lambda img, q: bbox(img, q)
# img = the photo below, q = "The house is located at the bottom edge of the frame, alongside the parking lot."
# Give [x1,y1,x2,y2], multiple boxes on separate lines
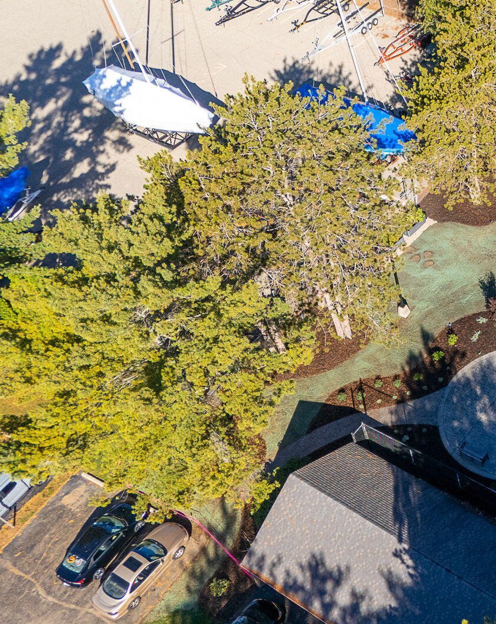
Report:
[242,434,496,624]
